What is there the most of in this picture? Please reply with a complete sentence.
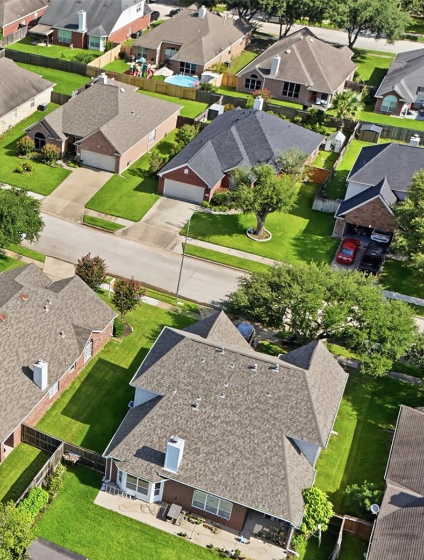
The scene is dominated by buildings.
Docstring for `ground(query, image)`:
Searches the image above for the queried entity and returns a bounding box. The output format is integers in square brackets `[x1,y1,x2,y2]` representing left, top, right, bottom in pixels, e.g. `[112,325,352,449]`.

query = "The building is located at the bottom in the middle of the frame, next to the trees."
[100,307,351,560]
